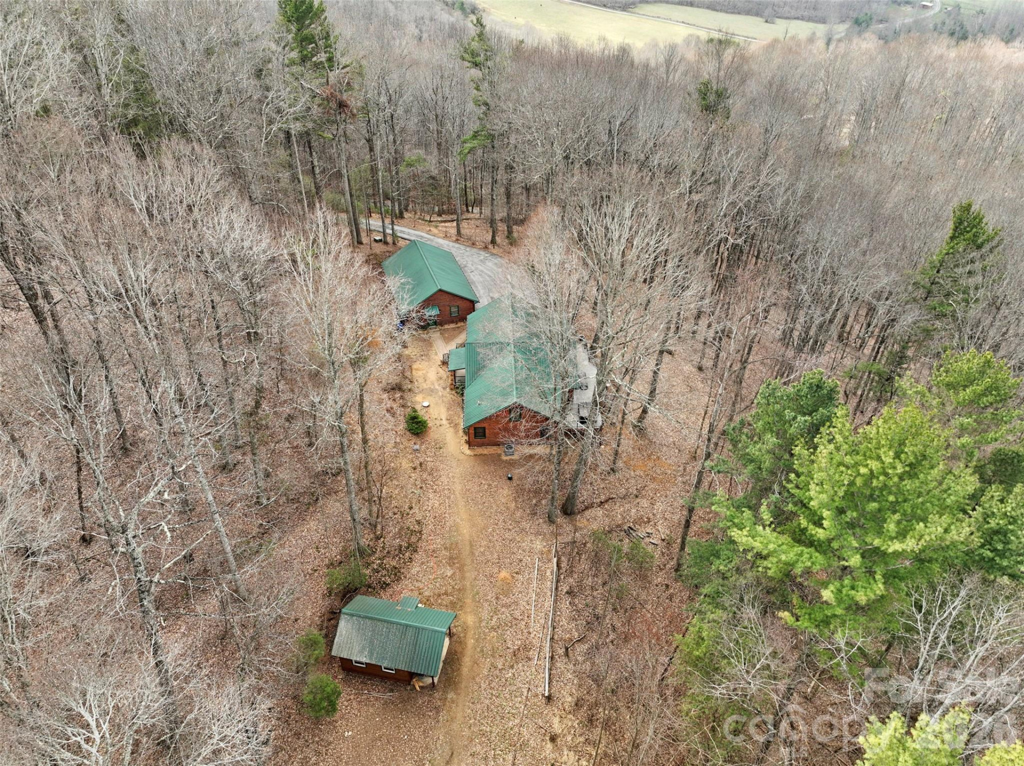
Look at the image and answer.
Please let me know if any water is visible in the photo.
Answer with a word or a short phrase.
No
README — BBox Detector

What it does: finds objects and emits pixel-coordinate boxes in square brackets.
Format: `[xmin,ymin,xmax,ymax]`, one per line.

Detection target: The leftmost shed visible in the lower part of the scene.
[329,590,454,689]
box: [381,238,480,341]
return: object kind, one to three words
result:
building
